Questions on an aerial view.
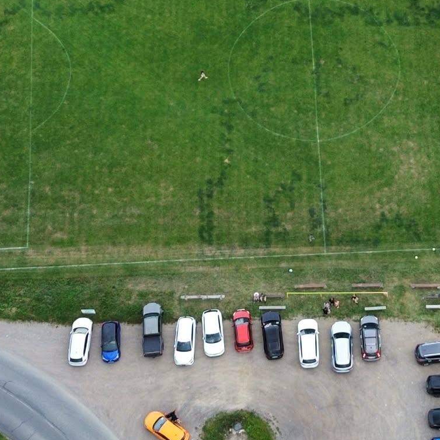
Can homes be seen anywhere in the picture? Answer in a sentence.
No, no home is visible in the view.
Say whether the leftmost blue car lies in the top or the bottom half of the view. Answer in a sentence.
It is in the bottom half that the leftmost blue car appears.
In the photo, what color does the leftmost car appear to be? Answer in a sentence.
From above, the leftmost car appears white.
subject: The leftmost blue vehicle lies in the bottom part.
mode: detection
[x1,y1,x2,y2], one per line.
[100,322,123,365]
